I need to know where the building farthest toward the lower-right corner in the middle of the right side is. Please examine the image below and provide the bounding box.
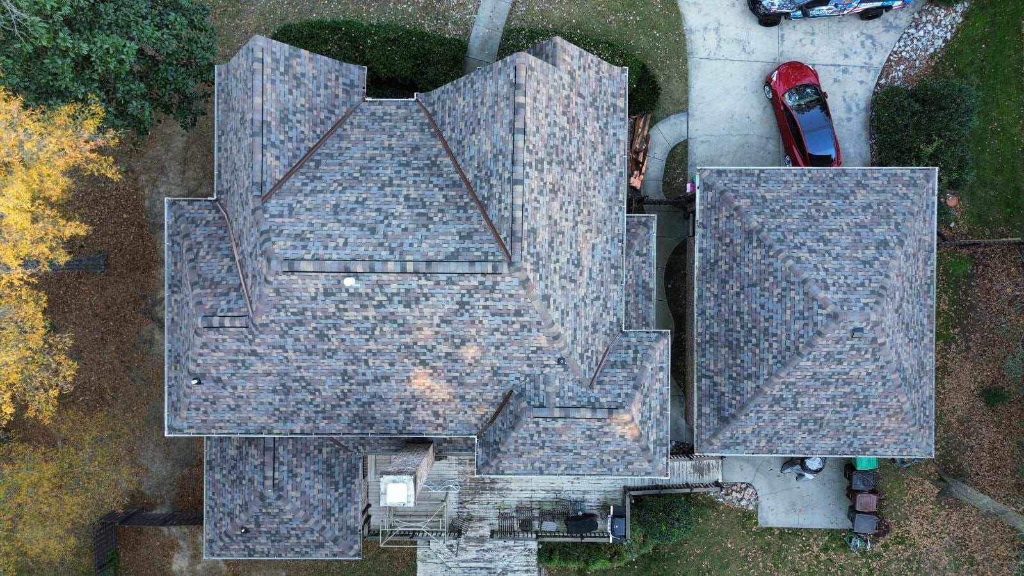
[688,167,937,457]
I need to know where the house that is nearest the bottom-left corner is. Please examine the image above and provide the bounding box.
[165,34,670,558]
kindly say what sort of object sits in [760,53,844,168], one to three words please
car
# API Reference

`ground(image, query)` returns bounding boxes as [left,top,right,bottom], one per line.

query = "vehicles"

[743,0,915,26]
[760,53,844,168]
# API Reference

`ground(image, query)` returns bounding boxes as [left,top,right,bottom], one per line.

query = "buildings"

[165,34,670,558]
[688,167,937,457]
